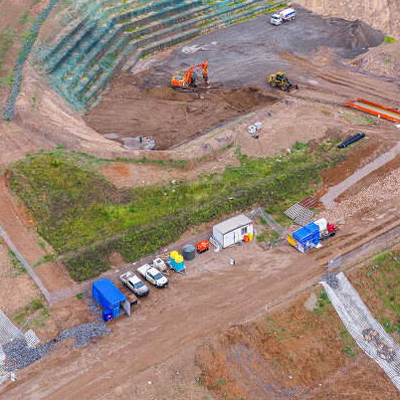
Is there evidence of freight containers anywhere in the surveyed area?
Yes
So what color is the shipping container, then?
blue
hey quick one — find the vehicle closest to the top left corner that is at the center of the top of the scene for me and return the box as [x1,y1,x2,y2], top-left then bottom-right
[168,67,205,94]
